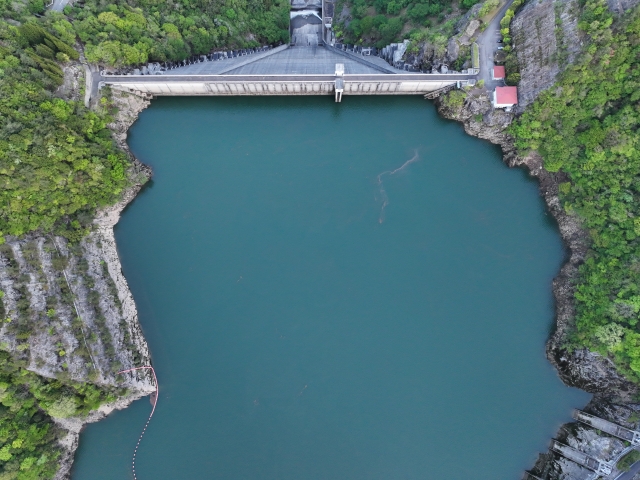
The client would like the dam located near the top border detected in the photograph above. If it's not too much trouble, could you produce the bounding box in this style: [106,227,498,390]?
[97,0,481,99]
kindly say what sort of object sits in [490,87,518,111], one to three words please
house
